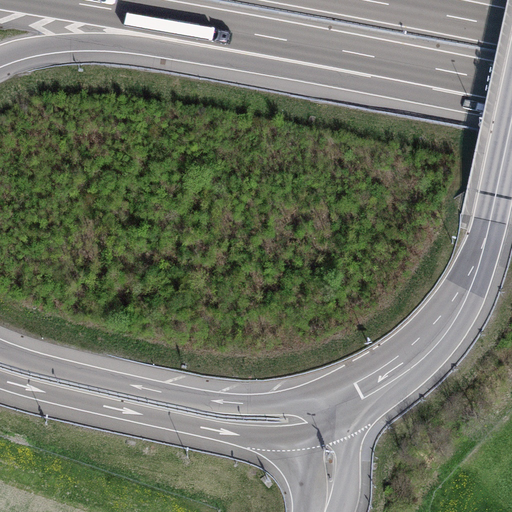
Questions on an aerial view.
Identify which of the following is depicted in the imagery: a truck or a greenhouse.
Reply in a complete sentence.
The one in the frame is a truck.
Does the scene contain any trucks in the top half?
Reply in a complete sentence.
Yes, looking in the top half, one can make out a truck.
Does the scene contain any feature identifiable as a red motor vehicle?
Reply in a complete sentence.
No, there appears to be no red motor vehicle in this shot.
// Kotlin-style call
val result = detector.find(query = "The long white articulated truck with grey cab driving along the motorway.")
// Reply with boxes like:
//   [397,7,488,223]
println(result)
[124,12,232,46]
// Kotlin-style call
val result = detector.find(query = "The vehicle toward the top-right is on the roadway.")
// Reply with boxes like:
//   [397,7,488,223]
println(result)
[462,100,486,114]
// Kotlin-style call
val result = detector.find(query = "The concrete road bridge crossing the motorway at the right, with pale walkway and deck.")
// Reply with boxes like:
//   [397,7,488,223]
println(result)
[454,0,512,225]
